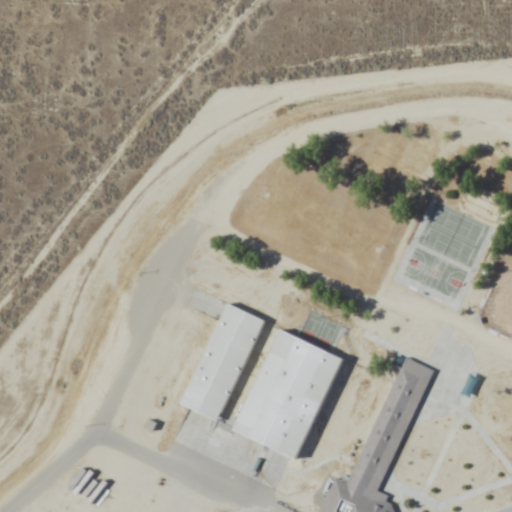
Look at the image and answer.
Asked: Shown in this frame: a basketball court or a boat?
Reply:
basketball court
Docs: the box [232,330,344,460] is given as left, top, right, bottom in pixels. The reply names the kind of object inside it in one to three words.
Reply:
building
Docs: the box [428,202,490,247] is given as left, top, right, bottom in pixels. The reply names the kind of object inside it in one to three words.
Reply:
tennis court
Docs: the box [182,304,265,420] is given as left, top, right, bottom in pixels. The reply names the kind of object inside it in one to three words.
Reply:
building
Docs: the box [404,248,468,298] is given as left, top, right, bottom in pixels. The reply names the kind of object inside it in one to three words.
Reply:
basketball court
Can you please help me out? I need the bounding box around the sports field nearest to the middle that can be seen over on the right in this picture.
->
[232,127,438,294]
